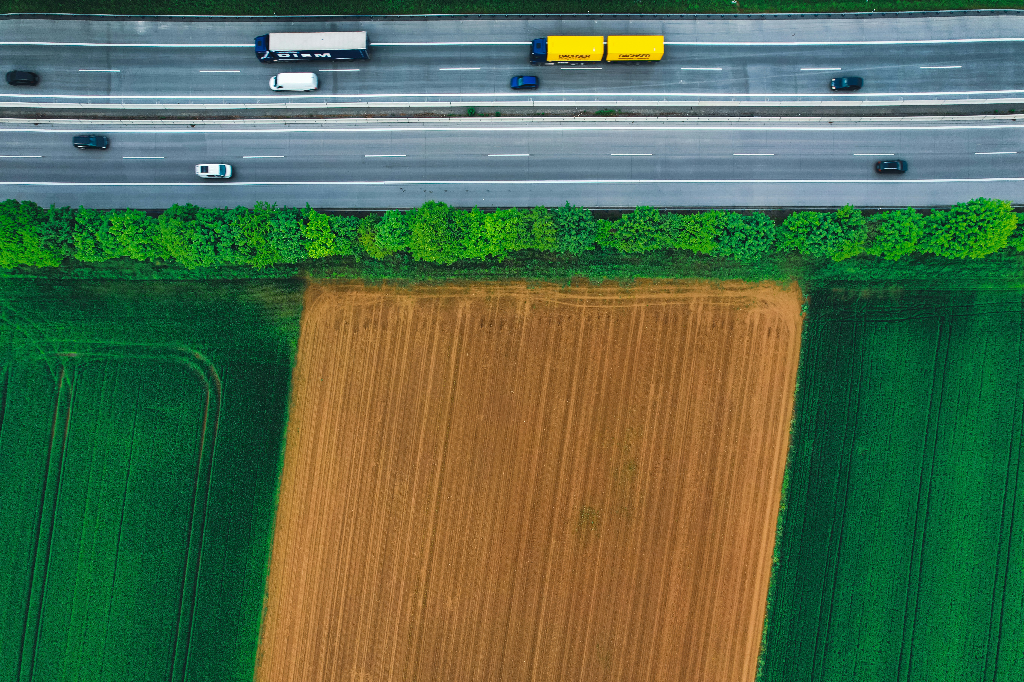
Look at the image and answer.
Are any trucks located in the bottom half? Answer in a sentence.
No, in the bottom half there is no truck.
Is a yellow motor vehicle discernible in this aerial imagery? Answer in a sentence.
Yes, a yellow motor vehicle appears in the view.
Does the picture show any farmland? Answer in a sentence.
Yes, farmland can be seen from above here.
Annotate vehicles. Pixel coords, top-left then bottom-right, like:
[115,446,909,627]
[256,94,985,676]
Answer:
[254,31,370,62]
[73,134,109,150]
[510,75,539,90]
[830,76,864,92]
[875,159,907,175]
[529,36,663,65]
[271,73,318,92]
[7,70,39,86]
[196,163,233,179]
